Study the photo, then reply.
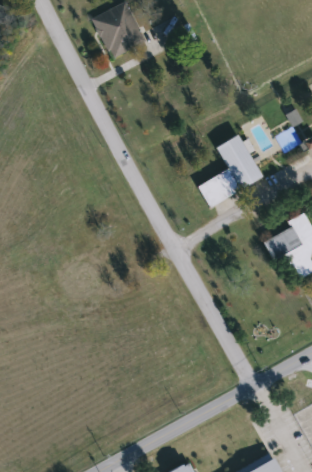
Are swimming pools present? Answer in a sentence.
Yes, a swimming pool appears in the view.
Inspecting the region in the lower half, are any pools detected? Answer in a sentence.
No, looking in the lower half, there is no pool.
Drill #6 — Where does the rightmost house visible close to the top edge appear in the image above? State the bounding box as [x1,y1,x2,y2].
[92,2,145,58]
